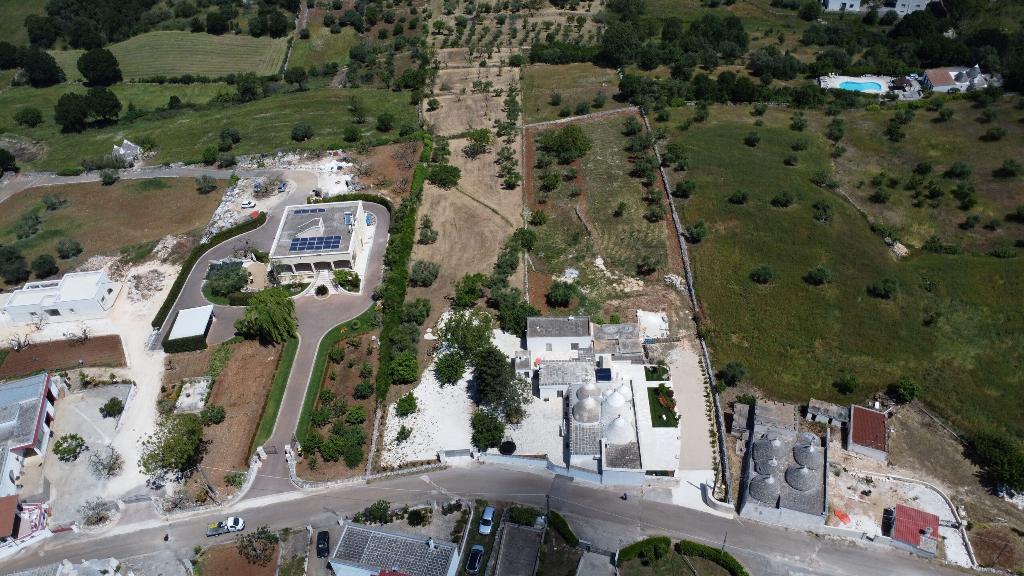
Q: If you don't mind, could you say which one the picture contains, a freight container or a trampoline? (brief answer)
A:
trampoline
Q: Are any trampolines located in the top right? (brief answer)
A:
No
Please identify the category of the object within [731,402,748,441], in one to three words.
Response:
shed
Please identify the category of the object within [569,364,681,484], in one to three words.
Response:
house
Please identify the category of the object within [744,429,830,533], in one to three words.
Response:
house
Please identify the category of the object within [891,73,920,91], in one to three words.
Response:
gazebo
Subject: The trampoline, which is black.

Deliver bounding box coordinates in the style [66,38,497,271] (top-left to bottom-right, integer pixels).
[495,432,521,456]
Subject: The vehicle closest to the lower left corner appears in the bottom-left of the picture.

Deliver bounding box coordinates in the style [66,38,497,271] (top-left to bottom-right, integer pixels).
[206,517,245,541]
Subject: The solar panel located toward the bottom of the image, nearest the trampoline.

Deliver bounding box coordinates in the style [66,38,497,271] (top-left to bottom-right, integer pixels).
[595,365,614,383]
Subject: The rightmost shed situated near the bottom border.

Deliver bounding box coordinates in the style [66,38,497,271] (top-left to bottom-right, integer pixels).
[885,504,939,570]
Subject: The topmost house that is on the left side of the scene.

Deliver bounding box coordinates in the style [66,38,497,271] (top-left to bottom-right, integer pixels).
[110,138,143,166]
